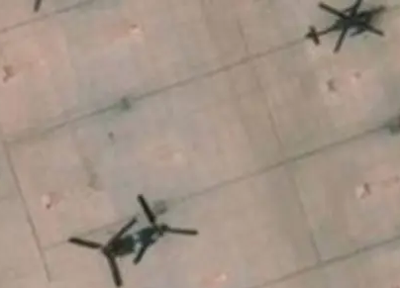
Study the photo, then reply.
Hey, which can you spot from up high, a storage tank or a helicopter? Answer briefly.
helicopter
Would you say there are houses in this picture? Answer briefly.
No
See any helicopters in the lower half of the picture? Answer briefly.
Yes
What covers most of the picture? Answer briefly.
paved ground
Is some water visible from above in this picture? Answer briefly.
No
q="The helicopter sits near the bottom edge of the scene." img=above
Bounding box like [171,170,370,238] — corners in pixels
[65,193,203,288]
